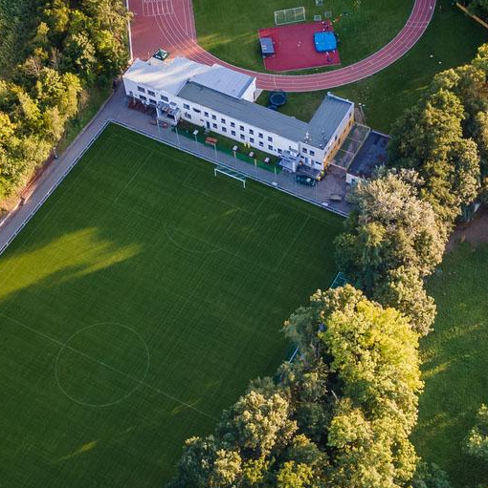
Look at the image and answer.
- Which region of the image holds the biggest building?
top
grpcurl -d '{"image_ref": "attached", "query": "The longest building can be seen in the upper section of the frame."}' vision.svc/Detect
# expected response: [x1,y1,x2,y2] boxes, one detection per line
[123,55,355,170]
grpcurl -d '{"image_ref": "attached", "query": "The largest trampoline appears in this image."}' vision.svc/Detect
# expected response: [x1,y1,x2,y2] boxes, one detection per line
[269,93,286,107]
